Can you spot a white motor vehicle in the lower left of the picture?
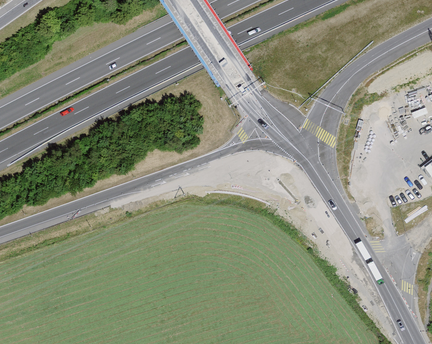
No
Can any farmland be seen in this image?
Yes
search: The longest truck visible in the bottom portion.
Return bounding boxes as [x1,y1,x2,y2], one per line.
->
[356,241,386,284]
